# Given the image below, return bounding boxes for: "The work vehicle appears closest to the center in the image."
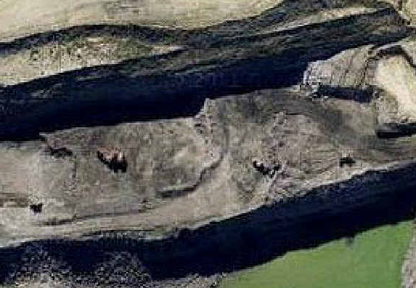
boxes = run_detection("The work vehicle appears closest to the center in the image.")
[253,159,274,171]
